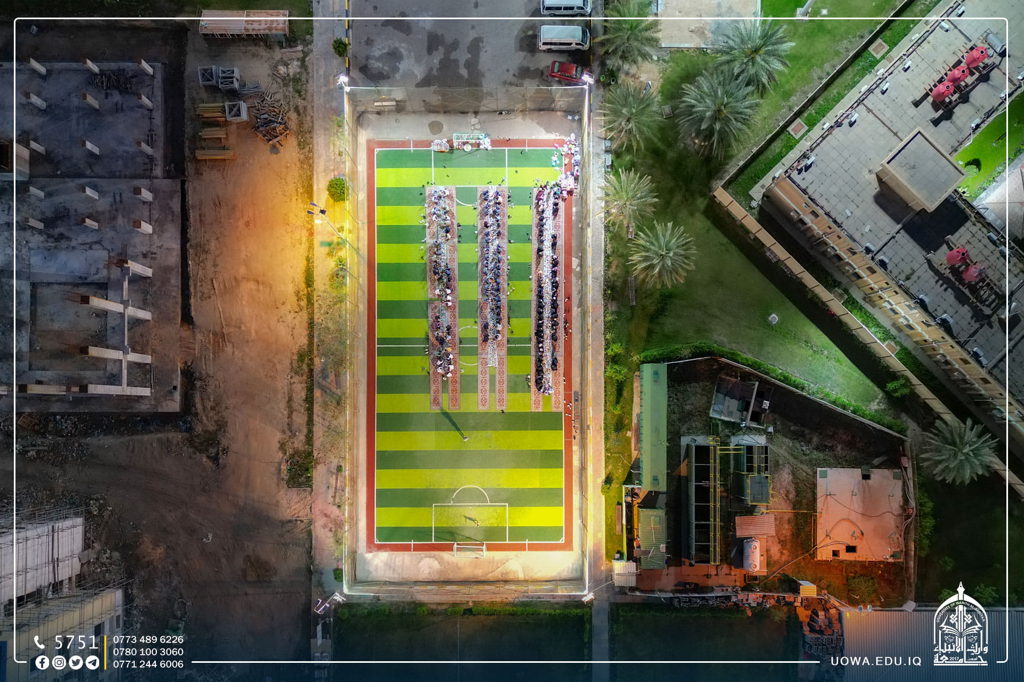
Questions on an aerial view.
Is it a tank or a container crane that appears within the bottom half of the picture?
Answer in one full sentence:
The one visible within the bottom half of the picture is a tank.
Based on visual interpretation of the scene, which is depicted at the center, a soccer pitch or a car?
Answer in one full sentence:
There is a soccer pitch at the center.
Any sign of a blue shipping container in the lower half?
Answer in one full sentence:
No, I can find no blue shipping container in the lower half.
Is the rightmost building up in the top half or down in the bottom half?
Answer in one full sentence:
The top half of the photo is where the rightmost building is.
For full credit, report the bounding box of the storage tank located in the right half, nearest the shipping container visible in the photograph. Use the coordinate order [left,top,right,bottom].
[687,434,721,567]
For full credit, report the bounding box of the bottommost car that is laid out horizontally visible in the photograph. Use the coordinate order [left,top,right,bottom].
[548,59,592,85]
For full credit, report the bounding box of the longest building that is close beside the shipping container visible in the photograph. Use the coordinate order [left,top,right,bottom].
[640,364,667,491]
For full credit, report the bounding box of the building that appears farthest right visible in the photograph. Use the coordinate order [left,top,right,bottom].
[970,161,1024,255]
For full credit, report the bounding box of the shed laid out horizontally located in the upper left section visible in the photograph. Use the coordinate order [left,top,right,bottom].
[199,10,292,38]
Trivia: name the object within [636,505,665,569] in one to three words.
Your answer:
shipping container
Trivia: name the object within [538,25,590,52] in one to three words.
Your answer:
vehicle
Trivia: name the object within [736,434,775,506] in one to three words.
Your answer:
storage tank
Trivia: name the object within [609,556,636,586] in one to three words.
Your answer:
building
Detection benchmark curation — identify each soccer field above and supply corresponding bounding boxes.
[366,139,573,552]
